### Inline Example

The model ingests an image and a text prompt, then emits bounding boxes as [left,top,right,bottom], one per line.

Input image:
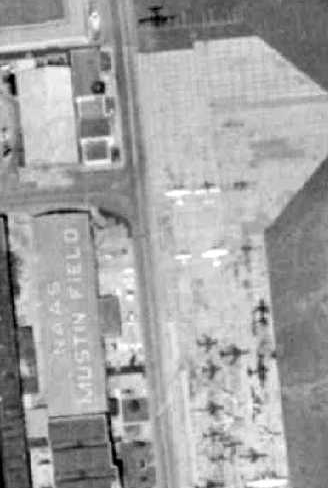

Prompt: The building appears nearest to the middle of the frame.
[101,294,122,337]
